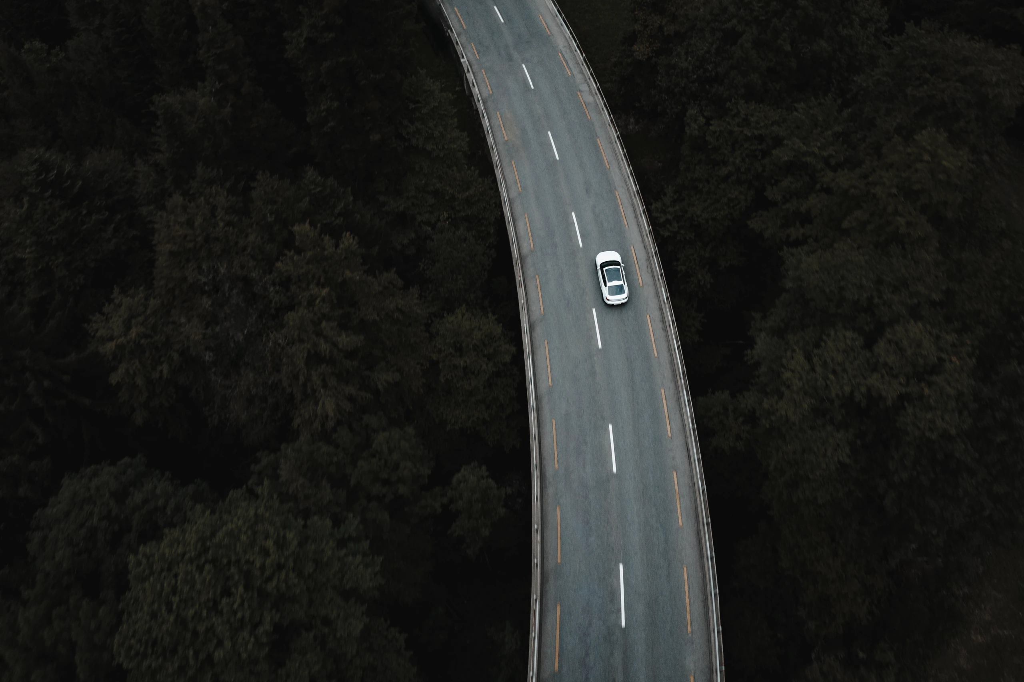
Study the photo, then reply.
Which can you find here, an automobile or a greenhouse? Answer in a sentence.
There is an automobile in the scene.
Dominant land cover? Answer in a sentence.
The scene is dominated by trees.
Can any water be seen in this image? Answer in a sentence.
No, there is no water in the image.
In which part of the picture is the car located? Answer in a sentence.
The car is in the center part of the image.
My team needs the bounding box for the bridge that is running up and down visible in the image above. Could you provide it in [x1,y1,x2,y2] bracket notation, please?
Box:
[439,0,726,682]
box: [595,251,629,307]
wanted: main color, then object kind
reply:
white car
